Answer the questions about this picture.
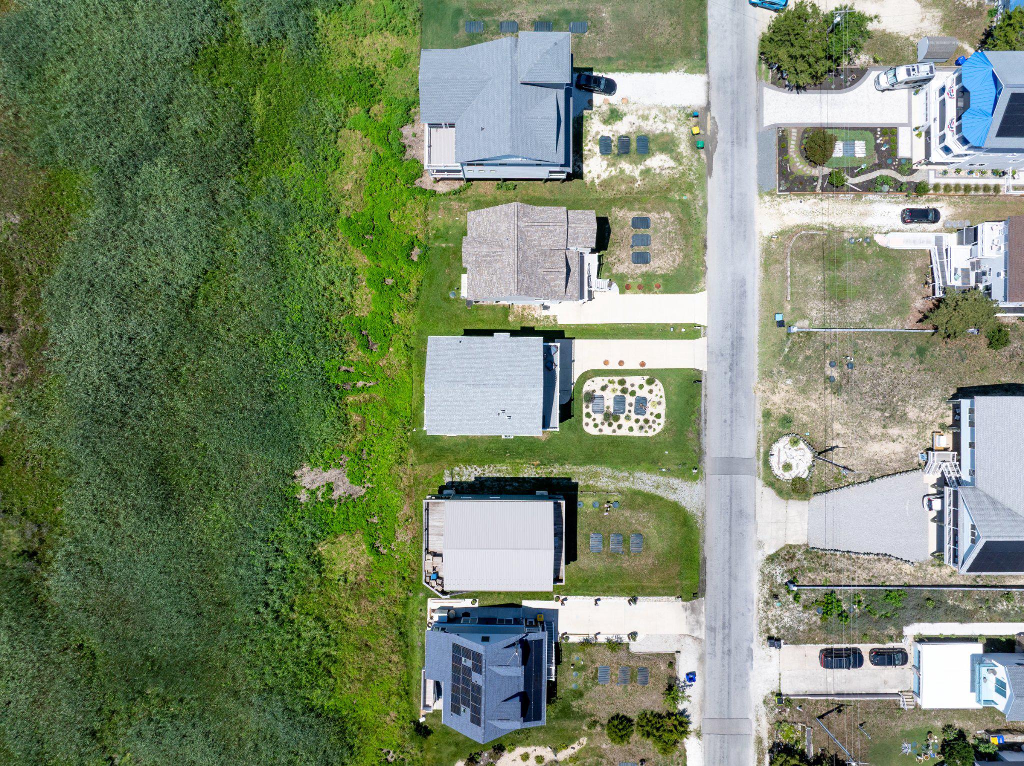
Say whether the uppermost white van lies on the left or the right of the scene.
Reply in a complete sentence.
You can find the uppermost white van on the right side of the picture.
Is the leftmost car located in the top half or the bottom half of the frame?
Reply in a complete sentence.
The leftmost car sits in the top half of the picture.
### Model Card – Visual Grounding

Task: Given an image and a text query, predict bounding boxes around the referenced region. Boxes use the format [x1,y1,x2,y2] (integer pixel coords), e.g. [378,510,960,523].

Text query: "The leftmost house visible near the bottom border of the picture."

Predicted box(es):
[422,609,557,744]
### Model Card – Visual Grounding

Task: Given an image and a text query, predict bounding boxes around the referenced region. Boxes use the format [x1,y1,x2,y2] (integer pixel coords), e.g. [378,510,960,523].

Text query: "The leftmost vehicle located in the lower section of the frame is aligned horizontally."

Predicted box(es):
[819,647,863,669]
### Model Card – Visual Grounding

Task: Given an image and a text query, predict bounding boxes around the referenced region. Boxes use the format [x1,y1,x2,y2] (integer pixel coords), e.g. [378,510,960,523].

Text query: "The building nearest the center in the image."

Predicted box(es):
[415,333,559,435]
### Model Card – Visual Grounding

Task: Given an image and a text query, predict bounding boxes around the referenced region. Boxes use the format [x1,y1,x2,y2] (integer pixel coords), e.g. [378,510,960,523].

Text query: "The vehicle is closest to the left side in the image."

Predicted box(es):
[574,74,617,98]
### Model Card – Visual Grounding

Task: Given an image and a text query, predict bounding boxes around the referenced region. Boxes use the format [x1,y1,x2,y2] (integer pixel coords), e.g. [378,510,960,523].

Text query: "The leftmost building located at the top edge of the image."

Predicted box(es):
[419,32,573,186]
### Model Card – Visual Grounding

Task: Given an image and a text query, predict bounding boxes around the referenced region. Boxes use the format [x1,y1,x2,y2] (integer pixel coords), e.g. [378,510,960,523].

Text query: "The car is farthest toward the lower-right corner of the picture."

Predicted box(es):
[868,647,907,668]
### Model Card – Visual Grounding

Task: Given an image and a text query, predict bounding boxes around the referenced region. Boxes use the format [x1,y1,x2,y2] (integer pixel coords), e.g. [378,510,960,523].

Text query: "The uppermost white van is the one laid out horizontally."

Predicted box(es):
[869,60,940,92]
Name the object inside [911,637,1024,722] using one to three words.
house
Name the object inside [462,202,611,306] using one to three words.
house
